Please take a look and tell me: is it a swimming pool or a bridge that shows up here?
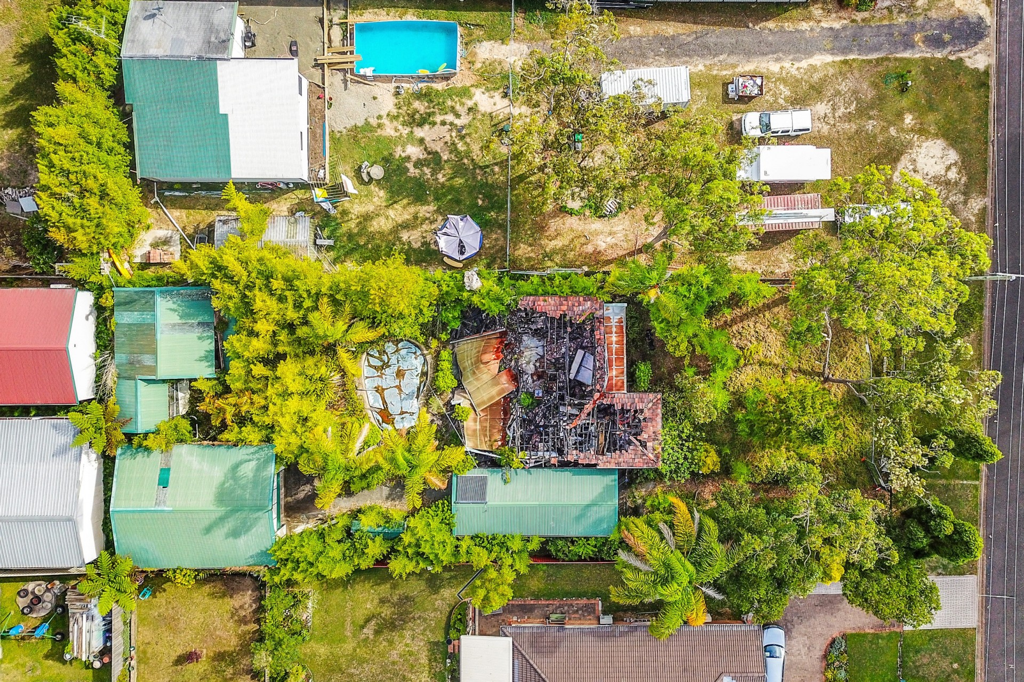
swimming pool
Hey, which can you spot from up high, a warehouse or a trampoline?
trampoline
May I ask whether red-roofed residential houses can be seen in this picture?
Yes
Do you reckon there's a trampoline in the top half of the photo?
Yes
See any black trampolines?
No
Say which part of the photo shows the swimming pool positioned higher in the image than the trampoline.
top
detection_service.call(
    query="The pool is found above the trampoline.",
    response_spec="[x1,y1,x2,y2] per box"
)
[354,19,465,86]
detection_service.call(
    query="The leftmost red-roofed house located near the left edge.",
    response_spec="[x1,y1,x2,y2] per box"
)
[0,286,94,405]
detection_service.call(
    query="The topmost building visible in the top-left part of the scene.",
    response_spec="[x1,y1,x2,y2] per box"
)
[118,0,312,182]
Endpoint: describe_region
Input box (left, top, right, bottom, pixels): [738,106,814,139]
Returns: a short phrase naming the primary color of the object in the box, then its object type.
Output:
white truck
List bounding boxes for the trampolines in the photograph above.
[434,213,484,262]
